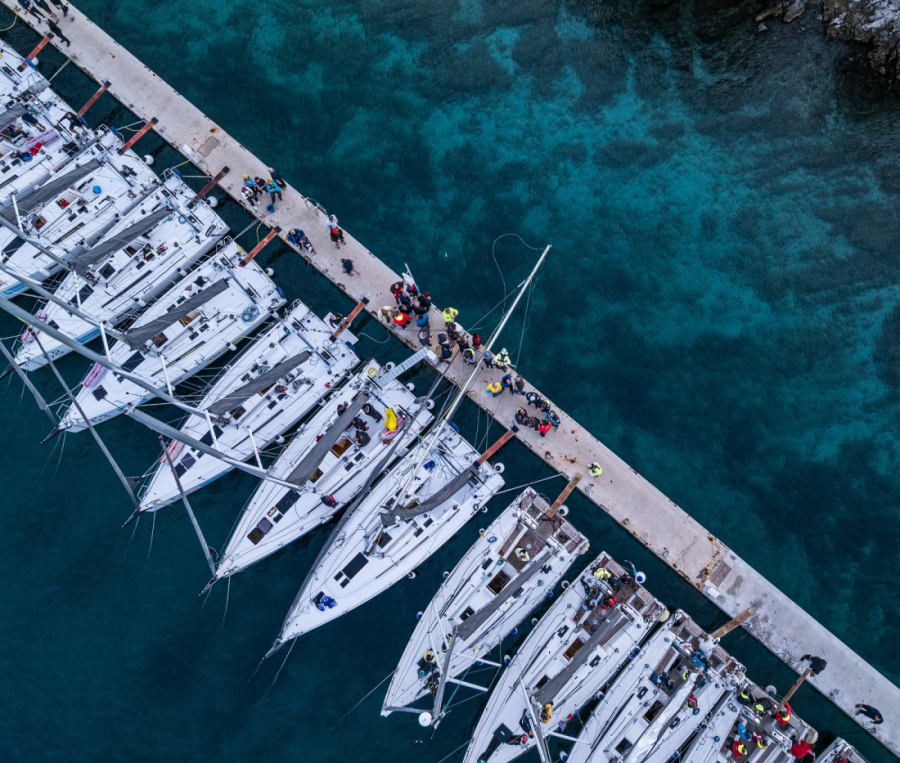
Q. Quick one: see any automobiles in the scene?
No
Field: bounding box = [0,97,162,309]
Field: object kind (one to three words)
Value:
boat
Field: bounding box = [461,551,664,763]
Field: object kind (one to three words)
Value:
boat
